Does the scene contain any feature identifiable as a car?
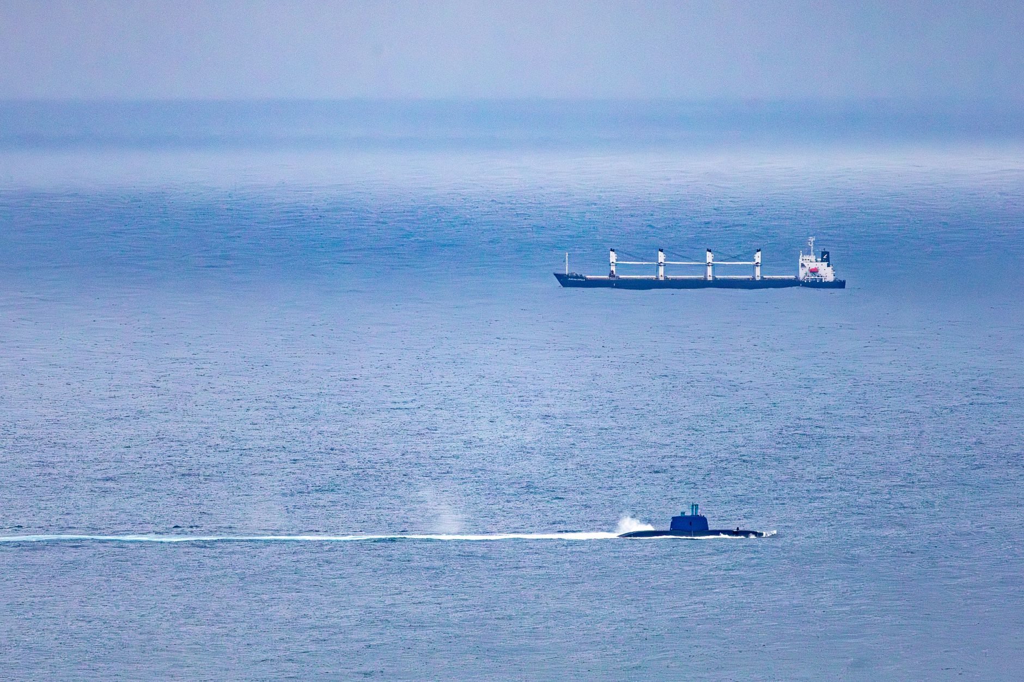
No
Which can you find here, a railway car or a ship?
ship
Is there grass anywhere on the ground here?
No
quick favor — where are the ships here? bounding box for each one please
[620,502,765,537]
[554,237,846,289]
